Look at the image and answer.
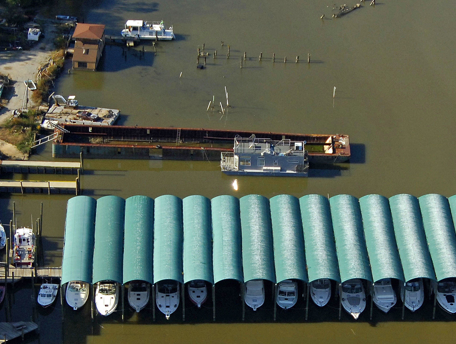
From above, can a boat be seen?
Yes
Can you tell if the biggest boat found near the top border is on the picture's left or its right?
left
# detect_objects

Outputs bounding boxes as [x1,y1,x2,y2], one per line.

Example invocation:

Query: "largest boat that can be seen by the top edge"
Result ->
[123,9,178,41]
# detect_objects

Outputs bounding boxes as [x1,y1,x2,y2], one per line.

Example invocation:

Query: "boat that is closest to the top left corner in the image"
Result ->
[28,22,40,42]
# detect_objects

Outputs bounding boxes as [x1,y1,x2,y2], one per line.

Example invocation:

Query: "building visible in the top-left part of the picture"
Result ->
[71,20,105,73]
